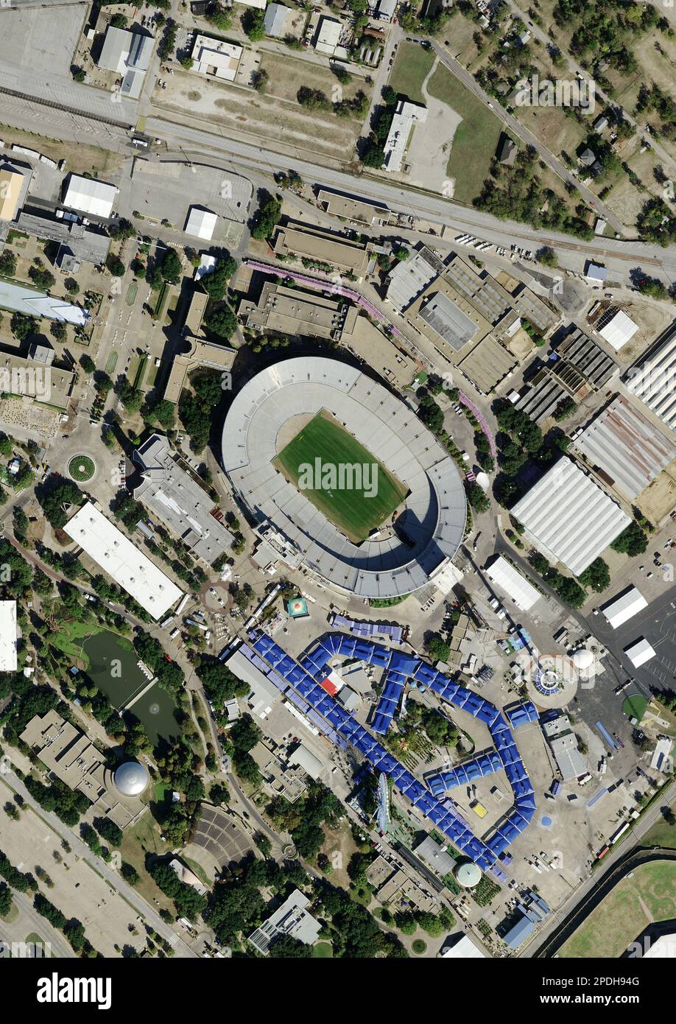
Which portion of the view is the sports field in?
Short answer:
center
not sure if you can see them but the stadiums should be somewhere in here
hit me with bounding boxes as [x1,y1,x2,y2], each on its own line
[216,355,467,598]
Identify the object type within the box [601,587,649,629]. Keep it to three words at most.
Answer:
building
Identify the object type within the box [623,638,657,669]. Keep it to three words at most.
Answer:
building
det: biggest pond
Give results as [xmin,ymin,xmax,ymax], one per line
[72,629,186,746]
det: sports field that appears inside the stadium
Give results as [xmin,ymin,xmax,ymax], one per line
[275,411,407,542]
